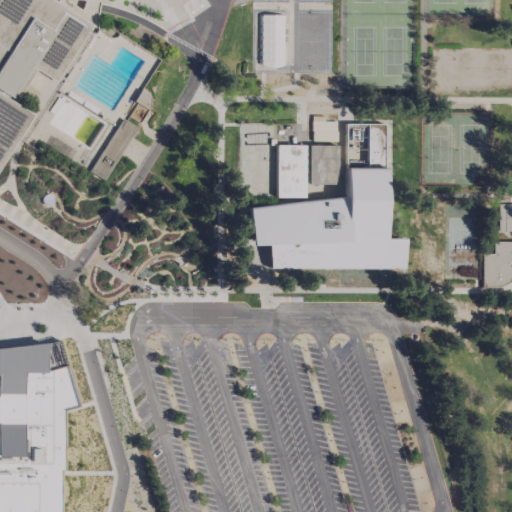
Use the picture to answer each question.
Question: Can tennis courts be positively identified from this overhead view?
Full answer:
Yes, you can see a tennis court in this photo.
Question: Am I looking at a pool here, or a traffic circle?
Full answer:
Of the two, only a pool appears.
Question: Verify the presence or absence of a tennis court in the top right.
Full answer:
Yes, looking in the top right, one can make out a tennis court.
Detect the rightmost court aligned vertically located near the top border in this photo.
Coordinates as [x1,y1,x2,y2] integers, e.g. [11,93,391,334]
[380,14,414,86]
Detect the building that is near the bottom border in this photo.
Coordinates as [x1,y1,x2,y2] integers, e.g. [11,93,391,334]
[0,342,80,512]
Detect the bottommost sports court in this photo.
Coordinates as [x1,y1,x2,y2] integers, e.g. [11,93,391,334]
[446,204,479,277]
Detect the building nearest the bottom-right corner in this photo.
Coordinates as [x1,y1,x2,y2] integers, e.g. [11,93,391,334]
[483,242,512,288]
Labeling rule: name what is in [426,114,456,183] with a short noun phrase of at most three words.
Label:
tennis court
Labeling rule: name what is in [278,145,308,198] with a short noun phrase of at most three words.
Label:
building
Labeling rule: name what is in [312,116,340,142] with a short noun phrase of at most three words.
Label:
building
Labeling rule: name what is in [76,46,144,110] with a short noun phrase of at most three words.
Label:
swimming pool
